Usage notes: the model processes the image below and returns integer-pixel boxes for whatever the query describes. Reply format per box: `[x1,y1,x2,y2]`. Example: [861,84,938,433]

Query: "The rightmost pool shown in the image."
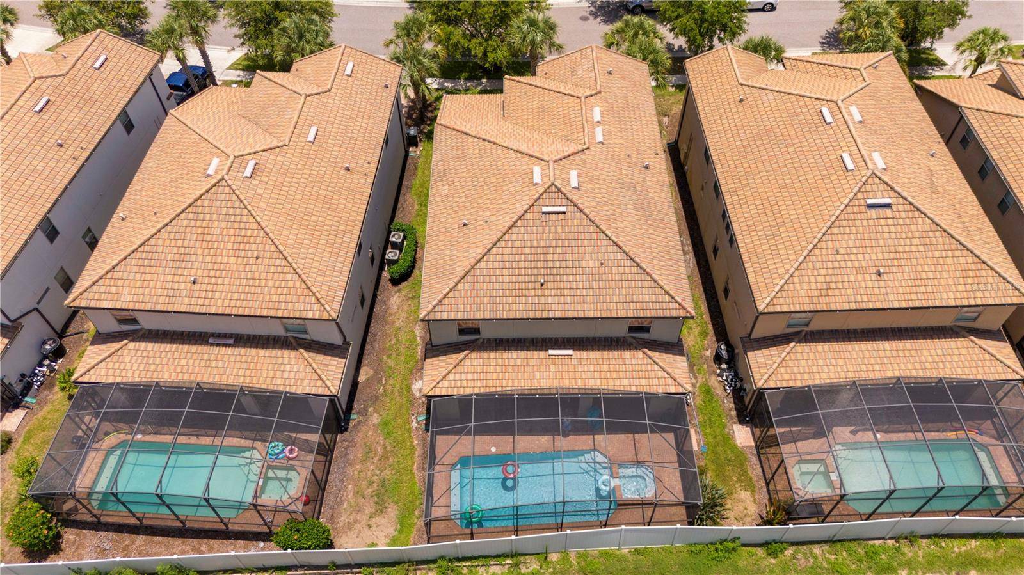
[823,433,1012,494]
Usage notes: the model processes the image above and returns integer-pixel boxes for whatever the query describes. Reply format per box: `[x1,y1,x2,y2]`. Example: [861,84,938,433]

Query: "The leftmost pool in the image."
[85,434,270,504]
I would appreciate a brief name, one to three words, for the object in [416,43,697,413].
house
